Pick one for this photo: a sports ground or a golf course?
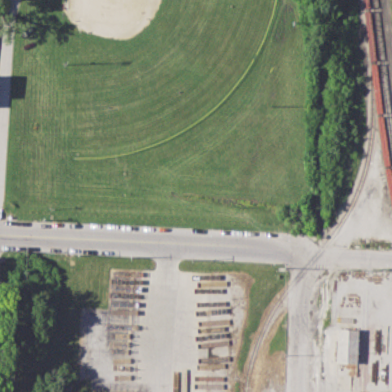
sports ground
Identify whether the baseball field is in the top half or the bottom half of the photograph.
top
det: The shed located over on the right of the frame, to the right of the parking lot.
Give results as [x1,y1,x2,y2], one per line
[336,329,360,364]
